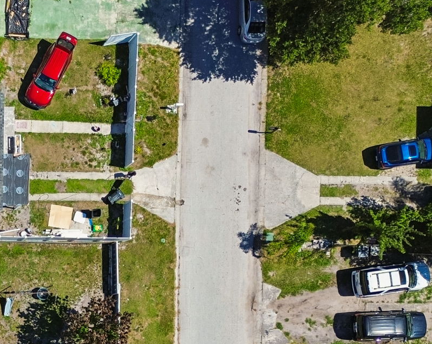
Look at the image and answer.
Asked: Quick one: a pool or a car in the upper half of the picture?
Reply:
car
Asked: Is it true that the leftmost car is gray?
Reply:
No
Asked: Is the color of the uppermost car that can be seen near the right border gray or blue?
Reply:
blue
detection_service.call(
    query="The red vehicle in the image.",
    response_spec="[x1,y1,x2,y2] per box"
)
[26,29,78,114]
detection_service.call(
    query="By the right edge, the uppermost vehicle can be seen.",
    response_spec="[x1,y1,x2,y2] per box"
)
[371,133,432,170]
